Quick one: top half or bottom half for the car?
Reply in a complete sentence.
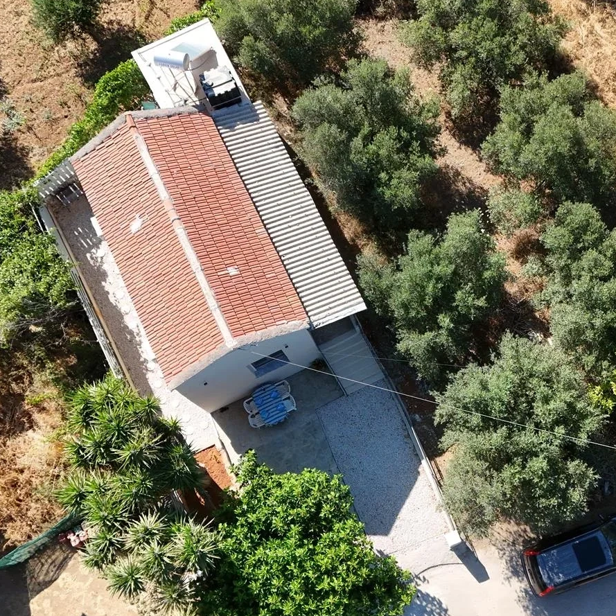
Seen from above, the car lies in the bottom half of the view.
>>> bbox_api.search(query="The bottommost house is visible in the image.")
[80,100,383,412]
